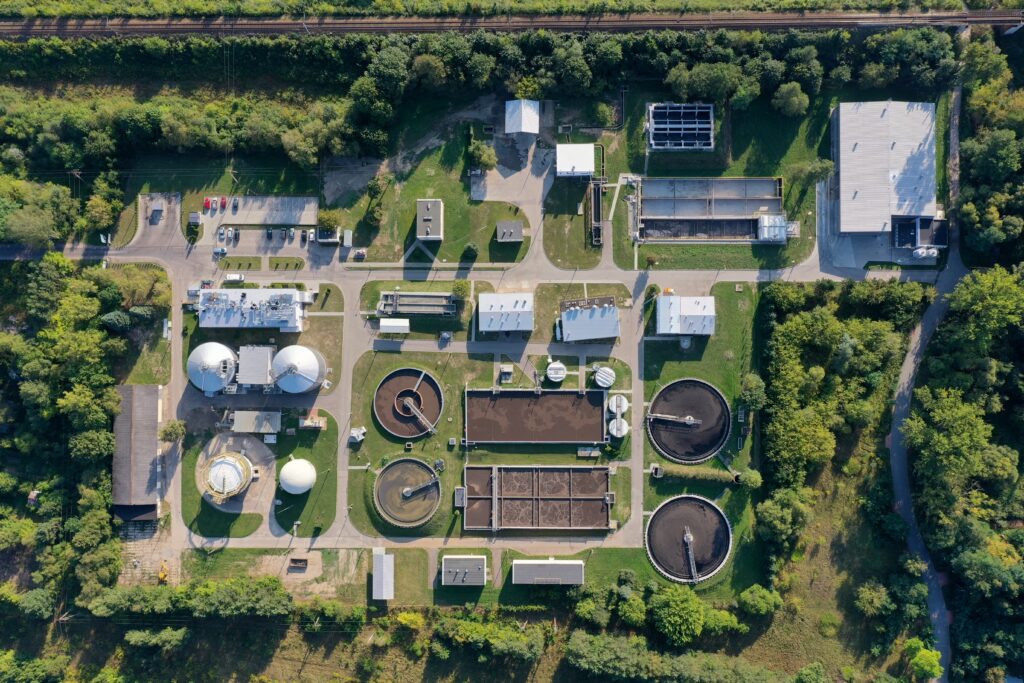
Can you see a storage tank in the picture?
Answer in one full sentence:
Yes, this view includes a storage tank.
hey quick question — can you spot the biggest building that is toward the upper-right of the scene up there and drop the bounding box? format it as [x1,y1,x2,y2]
[830,98,936,234]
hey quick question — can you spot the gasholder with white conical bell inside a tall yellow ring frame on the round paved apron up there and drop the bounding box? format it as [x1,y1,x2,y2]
[199,446,268,505]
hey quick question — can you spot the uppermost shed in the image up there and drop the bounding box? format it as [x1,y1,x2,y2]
[506,99,551,139]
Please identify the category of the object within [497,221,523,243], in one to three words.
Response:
building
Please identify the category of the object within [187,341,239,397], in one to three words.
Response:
storage tank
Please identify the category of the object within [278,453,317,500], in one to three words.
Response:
storage tank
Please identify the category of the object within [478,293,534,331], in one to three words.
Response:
house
